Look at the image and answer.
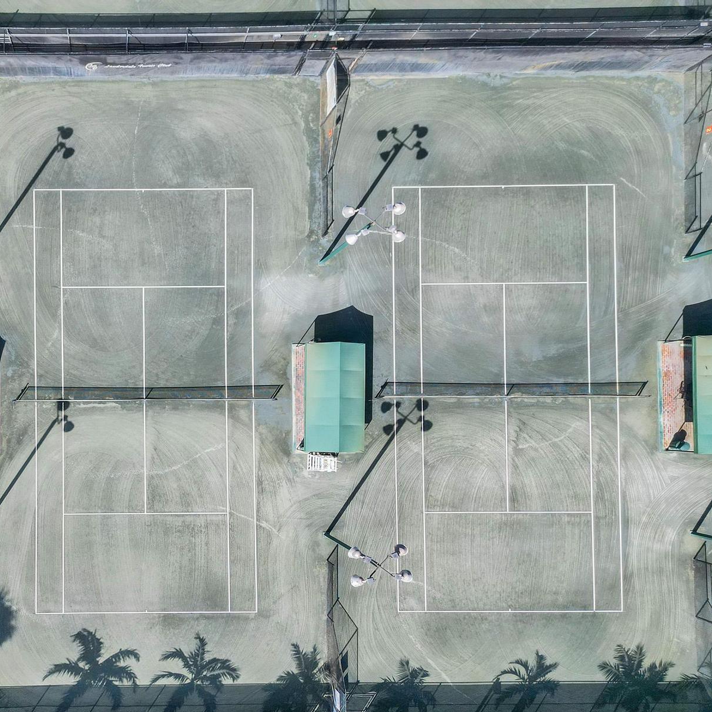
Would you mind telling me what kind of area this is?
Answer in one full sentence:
This image shows a sports ground.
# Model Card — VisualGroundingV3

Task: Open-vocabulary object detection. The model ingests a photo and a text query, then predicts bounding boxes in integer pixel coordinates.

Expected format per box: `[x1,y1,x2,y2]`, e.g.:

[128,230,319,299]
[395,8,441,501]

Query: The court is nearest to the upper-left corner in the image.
[0,0,324,52]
